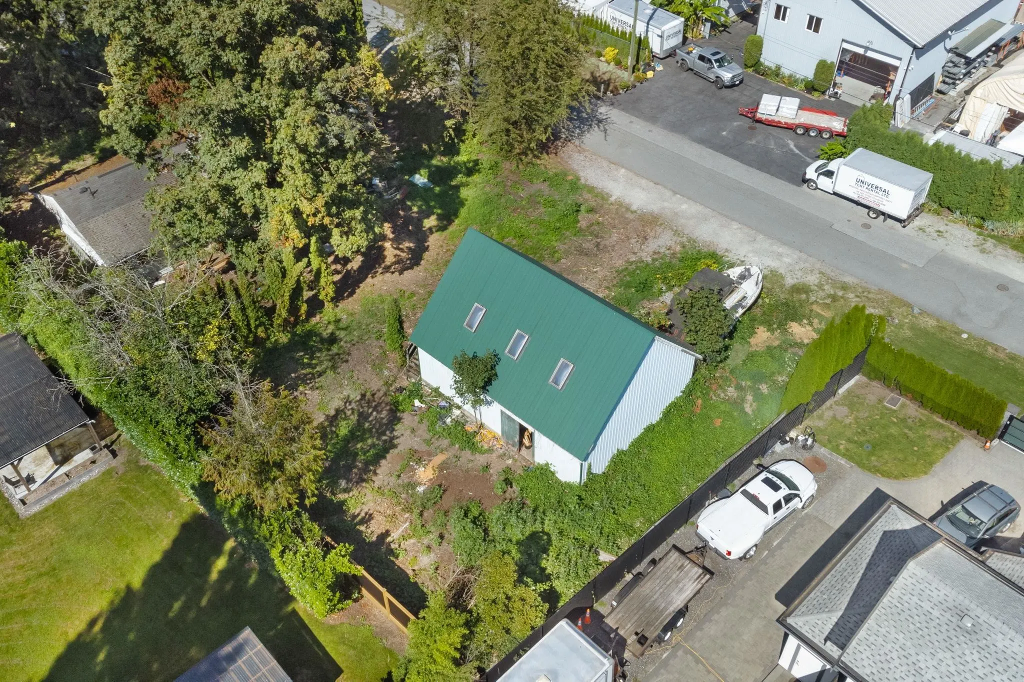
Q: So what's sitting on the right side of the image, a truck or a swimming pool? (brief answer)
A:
truck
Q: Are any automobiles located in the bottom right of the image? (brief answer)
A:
Yes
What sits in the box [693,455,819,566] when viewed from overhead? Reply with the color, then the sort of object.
white truck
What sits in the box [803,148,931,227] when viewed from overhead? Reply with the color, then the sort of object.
white truck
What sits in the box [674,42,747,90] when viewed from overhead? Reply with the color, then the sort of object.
gray truck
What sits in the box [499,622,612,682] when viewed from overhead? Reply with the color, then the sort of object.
white trailer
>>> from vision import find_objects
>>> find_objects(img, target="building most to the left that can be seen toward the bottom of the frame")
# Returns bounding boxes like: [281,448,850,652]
[0,326,105,520]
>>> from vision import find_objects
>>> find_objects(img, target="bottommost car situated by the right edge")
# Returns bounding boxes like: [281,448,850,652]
[934,482,1023,550]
